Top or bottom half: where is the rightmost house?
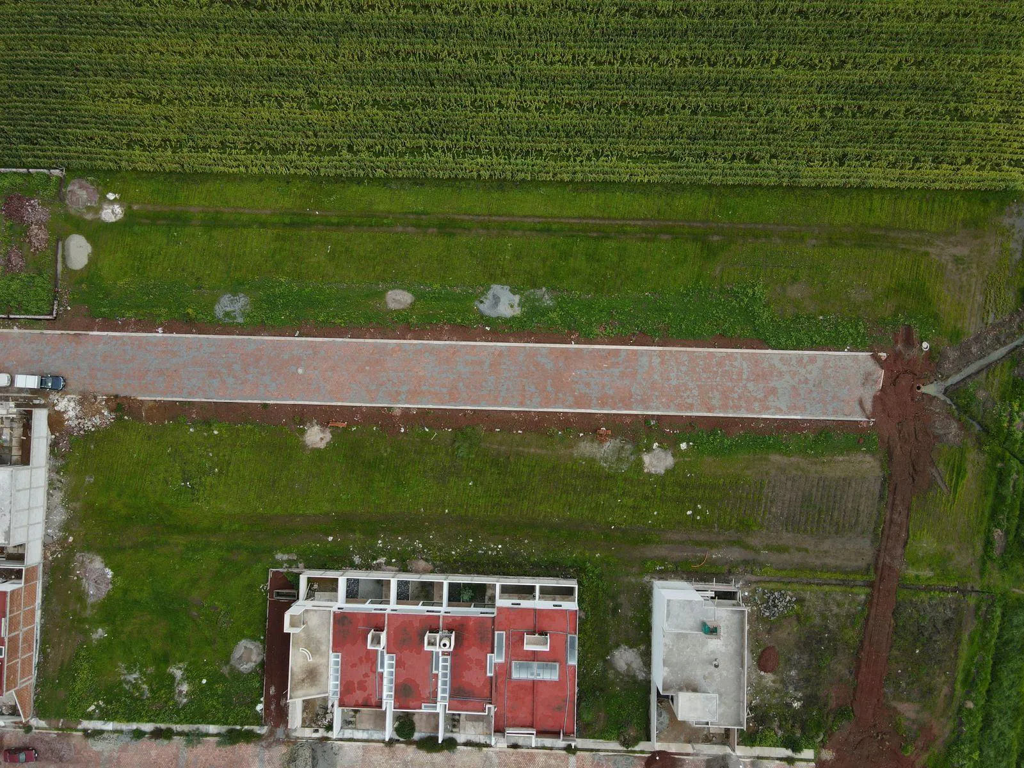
bottom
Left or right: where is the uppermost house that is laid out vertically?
left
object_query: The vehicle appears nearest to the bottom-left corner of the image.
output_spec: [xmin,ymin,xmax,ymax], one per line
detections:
[2,746,39,766]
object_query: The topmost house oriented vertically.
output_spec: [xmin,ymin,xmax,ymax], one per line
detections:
[0,407,49,566]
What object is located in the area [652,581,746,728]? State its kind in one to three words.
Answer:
house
